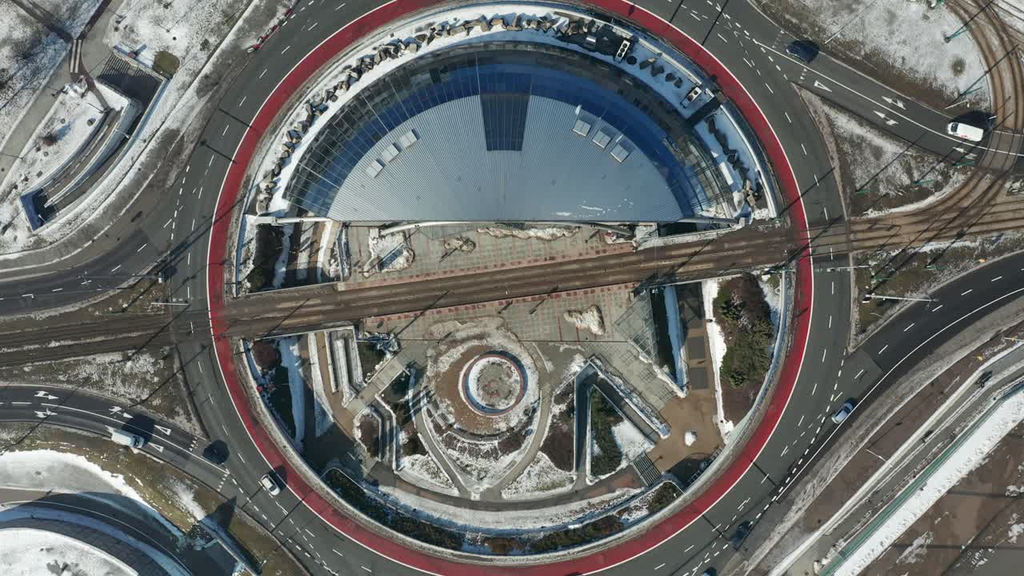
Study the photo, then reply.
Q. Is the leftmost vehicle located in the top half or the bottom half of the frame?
bottom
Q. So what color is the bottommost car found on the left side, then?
white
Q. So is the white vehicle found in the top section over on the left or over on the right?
right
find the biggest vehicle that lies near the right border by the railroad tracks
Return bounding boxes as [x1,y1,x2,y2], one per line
[948,121,989,142]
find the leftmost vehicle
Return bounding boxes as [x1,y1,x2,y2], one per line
[107,428,146,448]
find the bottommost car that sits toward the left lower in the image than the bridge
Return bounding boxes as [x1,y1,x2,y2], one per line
[259,474,280,496]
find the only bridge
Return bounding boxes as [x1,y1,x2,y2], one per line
[227,228,800,338]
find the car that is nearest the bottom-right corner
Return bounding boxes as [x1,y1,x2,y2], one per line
[832,401,854,424]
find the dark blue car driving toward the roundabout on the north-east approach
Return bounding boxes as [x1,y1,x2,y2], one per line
[788,43,815,62]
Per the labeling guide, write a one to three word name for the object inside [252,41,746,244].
building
